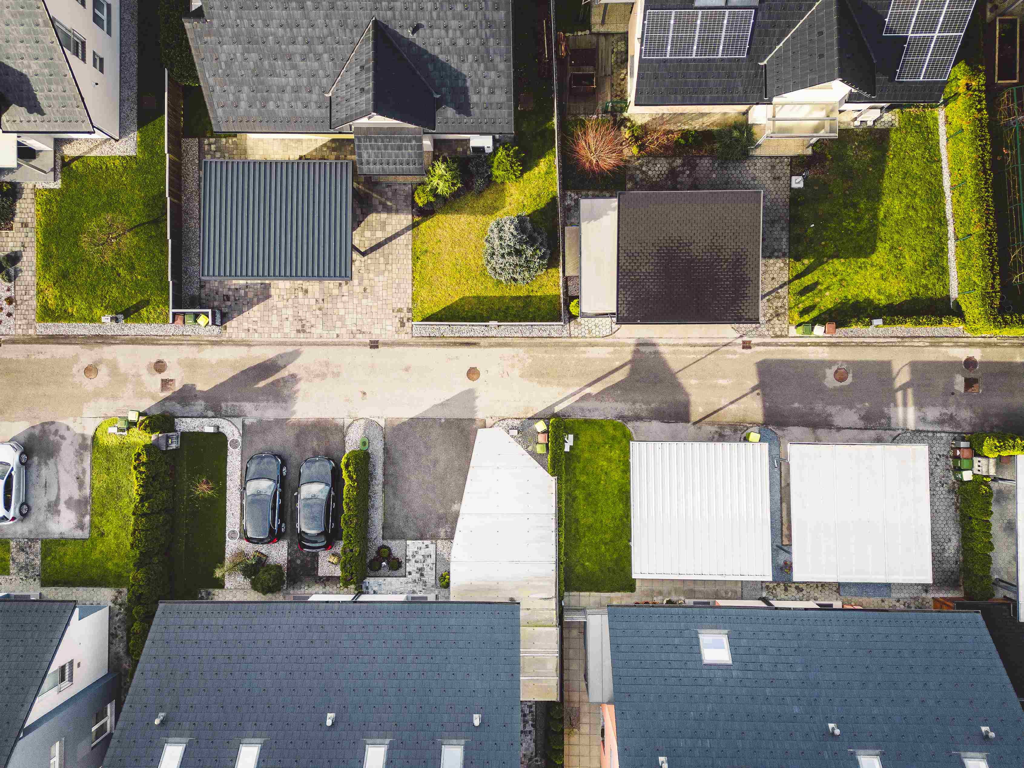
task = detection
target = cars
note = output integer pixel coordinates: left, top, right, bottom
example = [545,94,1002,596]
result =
[240,452,289,545]
[0,441,32,526]
[295,455,341,551]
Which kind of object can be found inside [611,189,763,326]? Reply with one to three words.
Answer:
building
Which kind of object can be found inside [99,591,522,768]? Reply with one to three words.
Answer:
house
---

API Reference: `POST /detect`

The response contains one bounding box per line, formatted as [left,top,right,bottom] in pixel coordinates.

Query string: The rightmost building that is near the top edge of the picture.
[628,0,983,144]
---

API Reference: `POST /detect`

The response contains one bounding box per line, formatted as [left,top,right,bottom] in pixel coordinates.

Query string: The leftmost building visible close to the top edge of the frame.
[0,0,120,174]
